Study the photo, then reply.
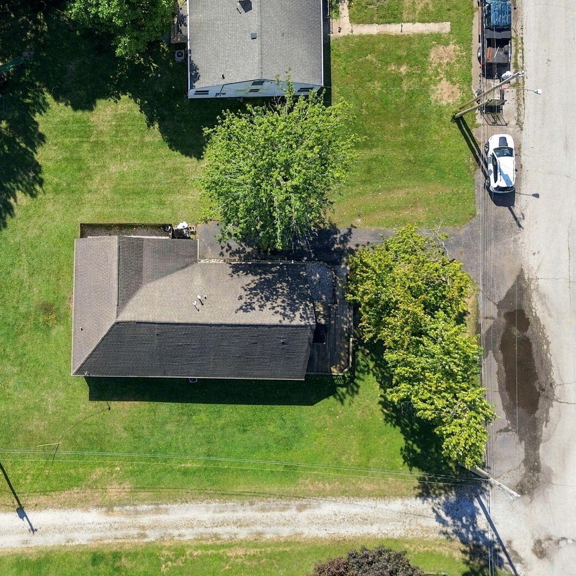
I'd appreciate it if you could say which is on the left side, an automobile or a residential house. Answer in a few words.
residential house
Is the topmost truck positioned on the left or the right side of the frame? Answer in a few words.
right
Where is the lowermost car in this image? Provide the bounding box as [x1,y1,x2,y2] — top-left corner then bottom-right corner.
[481,135,517,197]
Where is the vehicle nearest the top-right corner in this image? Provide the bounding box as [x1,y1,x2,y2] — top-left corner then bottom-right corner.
[478,0,515,67]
